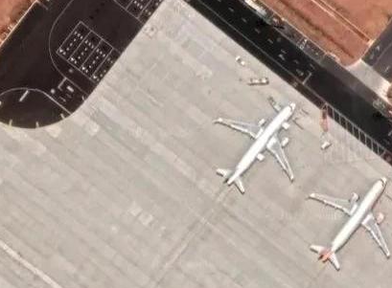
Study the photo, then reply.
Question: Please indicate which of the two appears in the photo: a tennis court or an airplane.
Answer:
airplane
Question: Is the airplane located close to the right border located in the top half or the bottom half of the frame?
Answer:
bottom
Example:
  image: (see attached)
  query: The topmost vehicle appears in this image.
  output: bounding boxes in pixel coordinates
[243,0,268,14]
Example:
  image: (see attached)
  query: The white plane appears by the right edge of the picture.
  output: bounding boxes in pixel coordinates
[306,179,390,269]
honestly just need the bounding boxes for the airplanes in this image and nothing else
[306,179,390,269]
[213,104,295,192]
